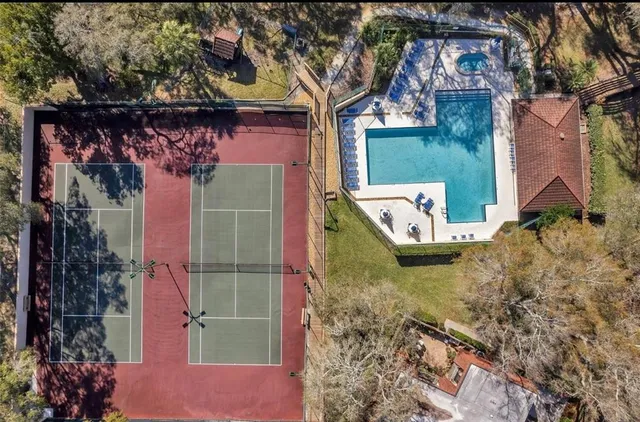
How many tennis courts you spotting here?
2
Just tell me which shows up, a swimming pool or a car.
swimming pool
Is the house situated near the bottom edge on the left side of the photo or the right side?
right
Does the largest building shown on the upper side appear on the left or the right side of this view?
right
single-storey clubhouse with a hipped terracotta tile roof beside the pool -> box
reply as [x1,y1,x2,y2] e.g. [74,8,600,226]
[511,96,586,211]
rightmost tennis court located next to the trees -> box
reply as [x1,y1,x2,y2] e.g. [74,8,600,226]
[165,109,308,418]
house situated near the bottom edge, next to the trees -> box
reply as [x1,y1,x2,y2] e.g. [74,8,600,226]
[443,363,538,422]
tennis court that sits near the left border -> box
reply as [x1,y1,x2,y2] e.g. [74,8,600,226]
[26,109,168,418]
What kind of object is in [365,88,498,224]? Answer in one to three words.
swimming pool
